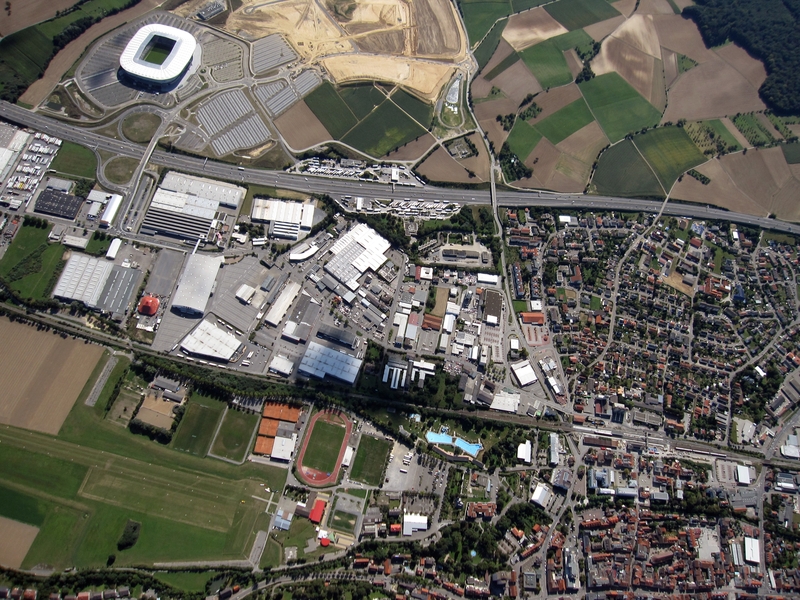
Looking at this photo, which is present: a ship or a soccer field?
soccer field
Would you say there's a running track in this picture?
Yes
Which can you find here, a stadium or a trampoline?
stadium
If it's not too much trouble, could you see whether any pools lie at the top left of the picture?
No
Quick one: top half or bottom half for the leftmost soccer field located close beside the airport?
bottom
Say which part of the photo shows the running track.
bottom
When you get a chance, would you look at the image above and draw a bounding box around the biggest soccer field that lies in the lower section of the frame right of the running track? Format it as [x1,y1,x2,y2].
[351,434,391,485]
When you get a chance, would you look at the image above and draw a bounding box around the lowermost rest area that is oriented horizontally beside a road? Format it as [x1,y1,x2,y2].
[330,195,462,220]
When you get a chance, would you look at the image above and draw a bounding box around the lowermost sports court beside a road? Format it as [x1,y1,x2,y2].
[335,493,363,518]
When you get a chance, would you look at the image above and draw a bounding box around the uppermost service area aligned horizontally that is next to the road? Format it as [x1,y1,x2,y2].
[288,159,426,185]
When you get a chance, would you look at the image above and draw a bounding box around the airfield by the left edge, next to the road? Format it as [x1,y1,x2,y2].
[0,427,276,534]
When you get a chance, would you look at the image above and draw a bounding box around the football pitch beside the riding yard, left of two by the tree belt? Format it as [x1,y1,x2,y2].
[174,397,222,451]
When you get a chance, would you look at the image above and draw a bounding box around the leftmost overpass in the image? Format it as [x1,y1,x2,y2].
[121,115,171,207]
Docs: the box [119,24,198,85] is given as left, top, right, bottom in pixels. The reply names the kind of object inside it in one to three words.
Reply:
stadium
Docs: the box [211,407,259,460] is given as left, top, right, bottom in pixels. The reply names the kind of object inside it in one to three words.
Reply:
soccer field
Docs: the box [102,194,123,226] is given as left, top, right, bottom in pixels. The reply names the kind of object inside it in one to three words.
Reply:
building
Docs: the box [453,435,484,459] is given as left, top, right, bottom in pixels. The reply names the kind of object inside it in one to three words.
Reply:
swimming pool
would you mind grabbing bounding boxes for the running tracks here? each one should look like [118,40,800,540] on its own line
[298,409,352,487]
